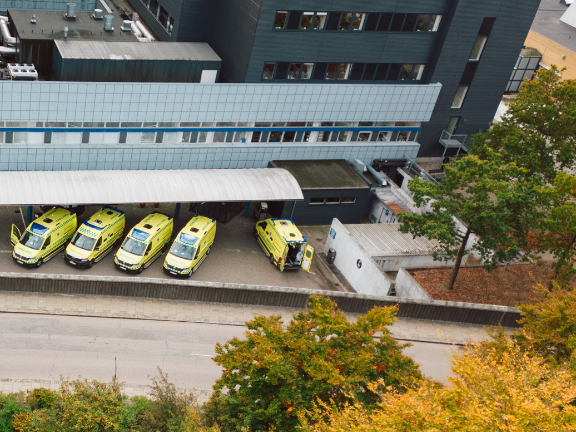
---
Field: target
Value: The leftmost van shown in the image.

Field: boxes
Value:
[11,203,78,269]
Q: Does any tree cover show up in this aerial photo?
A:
Yes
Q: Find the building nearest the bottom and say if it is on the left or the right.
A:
right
